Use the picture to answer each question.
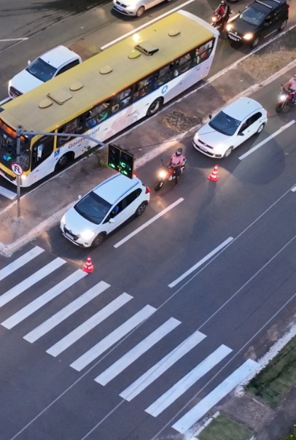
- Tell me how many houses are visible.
none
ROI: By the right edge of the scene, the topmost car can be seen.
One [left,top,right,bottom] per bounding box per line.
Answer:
[227,0,290,46]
